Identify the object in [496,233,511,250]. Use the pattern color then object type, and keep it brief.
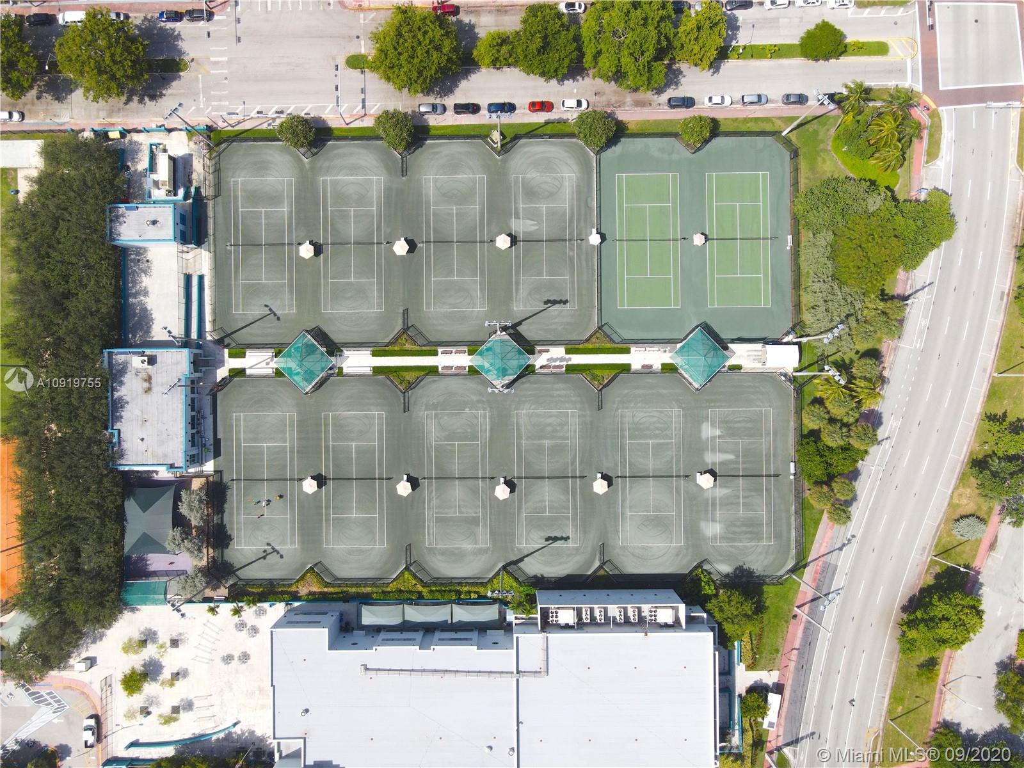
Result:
white umbrella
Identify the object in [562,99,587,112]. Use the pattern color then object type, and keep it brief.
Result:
white vehicle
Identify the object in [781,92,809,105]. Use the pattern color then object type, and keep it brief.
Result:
gray vehicle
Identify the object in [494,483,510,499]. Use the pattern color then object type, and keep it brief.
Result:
white umbrella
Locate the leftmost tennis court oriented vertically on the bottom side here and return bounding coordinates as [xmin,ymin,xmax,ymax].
[215,378,311,578]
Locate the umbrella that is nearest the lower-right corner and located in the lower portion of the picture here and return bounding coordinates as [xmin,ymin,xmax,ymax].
[698,471,713,488]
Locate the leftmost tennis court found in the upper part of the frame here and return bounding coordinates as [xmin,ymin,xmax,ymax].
[211,143,307,344]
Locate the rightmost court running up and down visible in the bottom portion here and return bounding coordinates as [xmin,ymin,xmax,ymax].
[695,374,794,573]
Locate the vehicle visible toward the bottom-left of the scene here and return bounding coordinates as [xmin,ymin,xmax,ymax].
[82,715,99,749]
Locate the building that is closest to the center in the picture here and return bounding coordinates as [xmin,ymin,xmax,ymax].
[472,330,532,388]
